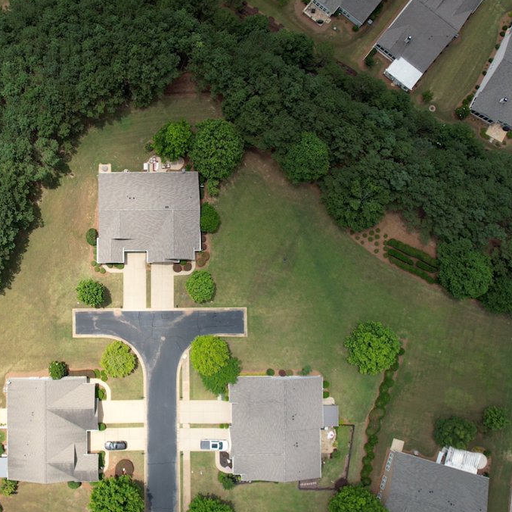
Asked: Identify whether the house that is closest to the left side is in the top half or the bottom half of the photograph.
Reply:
bottom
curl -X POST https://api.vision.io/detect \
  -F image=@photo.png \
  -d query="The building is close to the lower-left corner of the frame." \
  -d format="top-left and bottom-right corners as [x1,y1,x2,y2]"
[0,377,99,486]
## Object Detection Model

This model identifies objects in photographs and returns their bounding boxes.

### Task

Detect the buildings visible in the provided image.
[375,0,482,92]
[312,0,383,25]
[381,445,493,512]
[97,173,201,264]
[468,27,512,130]
[229,376,338,484]
[0,377,99,486]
